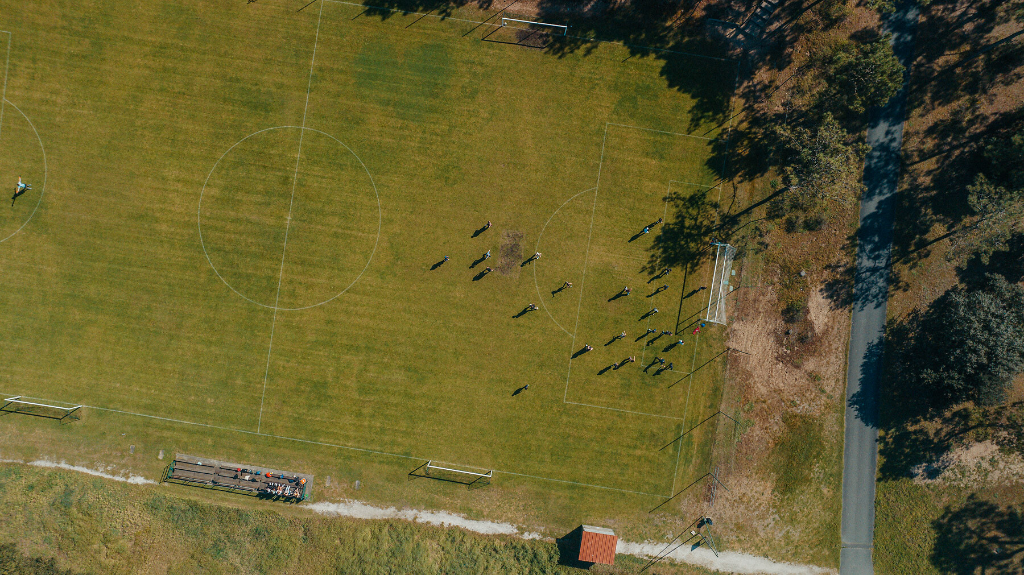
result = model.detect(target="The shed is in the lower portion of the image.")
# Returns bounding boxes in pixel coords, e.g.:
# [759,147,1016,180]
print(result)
[578,525,619,566]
